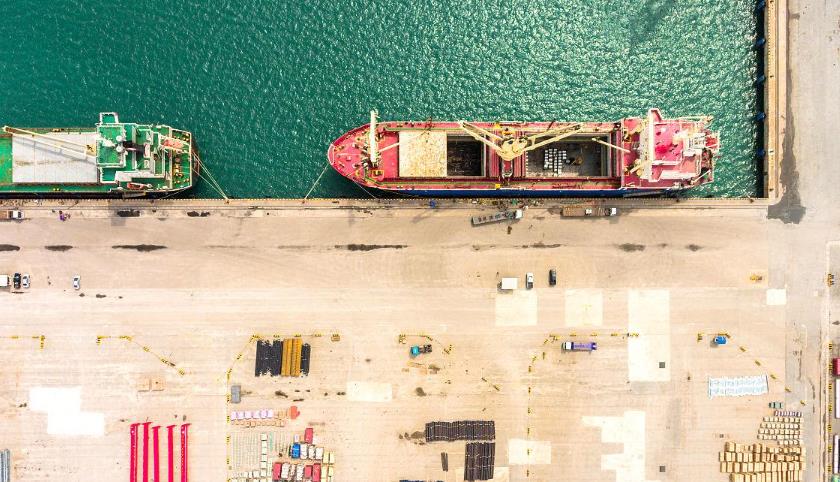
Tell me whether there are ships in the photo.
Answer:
Yes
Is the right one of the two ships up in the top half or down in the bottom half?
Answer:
top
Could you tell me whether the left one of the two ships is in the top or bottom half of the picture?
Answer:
top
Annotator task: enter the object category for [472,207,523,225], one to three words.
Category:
vehicle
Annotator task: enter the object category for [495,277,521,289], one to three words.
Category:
vehicle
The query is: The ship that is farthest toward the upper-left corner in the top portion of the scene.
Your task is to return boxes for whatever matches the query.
[0,112,199,196]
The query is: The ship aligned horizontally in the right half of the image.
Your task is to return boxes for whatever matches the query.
[328,107,721,194]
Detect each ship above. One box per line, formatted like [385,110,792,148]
[328,107,721,194]
[0,112,199,196]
